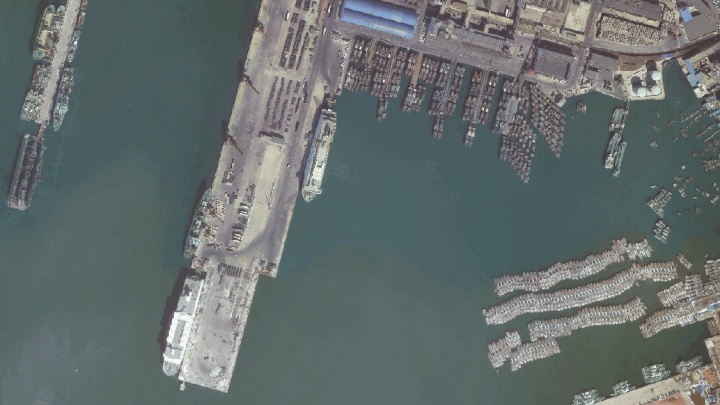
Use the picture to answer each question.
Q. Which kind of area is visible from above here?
port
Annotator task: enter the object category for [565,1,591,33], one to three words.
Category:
building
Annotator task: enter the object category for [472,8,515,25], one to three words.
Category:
building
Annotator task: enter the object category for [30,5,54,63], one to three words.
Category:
ship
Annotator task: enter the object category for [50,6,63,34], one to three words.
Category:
ship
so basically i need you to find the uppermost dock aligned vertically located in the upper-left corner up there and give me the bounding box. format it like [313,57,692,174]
[36,0,82,124]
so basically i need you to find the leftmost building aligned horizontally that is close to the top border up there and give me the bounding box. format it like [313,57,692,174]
[339,0,419,38]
